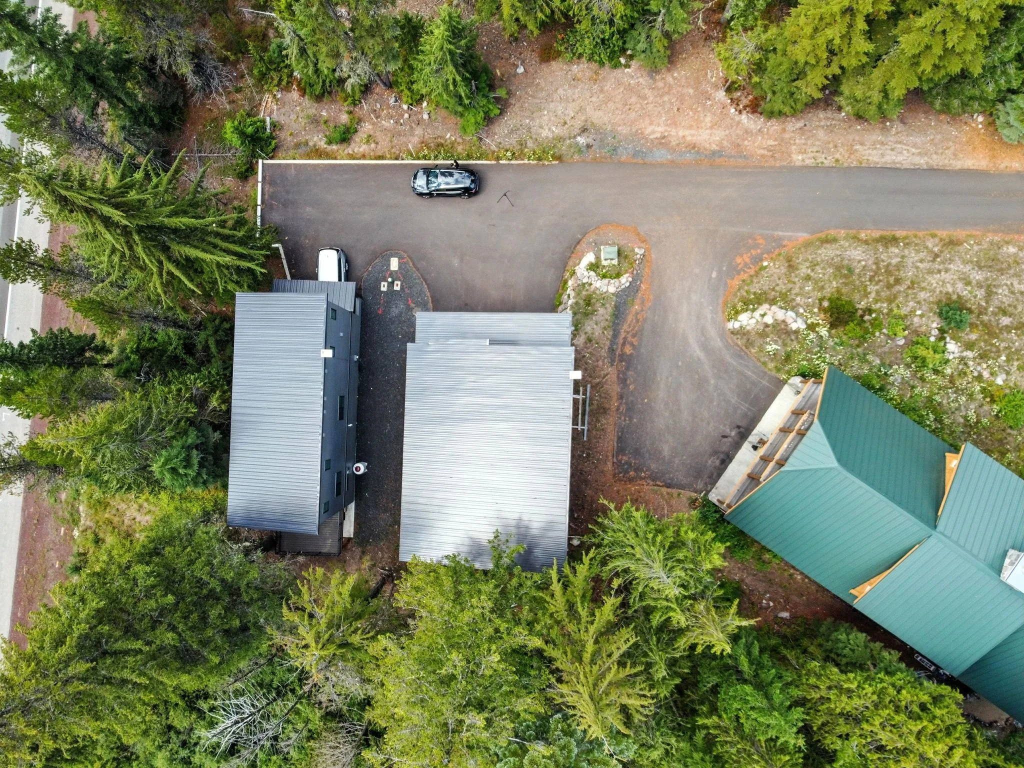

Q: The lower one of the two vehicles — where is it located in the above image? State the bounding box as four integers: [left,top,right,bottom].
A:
[318,248,349,282]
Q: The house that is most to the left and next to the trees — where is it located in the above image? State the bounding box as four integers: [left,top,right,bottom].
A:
[227,280,360,536]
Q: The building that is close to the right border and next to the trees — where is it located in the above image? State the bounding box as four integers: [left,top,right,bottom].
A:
[712,364,1024,719]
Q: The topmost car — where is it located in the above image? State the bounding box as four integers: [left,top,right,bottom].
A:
[411,165,479,199]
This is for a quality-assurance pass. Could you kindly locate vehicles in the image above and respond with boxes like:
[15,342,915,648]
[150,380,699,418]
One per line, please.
[318,248,349,282]
[411,165,479,199]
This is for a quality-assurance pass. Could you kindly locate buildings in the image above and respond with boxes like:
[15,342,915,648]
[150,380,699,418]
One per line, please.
[399,311,582,571]
[227,280,360,536]
[712,364,1024,719]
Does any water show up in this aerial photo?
No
